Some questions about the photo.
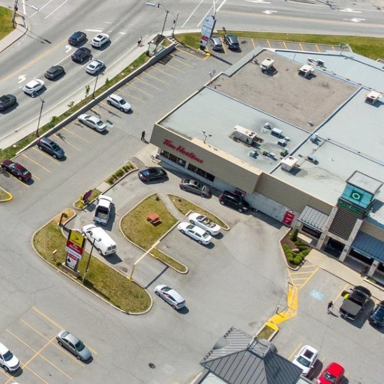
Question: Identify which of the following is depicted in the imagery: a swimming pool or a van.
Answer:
van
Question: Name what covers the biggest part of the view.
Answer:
paved ground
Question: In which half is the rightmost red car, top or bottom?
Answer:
bottom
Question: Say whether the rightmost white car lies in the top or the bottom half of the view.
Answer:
bottom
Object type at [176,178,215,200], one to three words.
car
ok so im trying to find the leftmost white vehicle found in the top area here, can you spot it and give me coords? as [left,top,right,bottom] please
[20,80,47,97]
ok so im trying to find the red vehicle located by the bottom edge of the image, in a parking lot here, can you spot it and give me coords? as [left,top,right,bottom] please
[316,361,347,384]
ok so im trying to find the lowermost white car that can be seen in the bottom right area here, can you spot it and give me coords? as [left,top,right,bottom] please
[293,342,322,379]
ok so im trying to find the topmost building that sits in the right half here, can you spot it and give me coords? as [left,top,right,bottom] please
[148,48,384,271]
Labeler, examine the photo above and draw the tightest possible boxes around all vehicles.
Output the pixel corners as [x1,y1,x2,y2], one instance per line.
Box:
[43,64,67,81]
[134,167,172,182]
[76,112,106,134]
[175,221,216,248]
[185,211,224,237]
[223,31,240,50]
[83,60,106,76]
[336,285,372,321]
[316,361,347,384]
[1,159,32,182]
[0,339,25,376]
[52,328,97,365]
[67,31,88,47]
[69,47,92,63]
[176,178,215,200]
[367,299,384,329]
[151,283,191,312]
[106,93,132,112]
[93,193,114,227]
[36,135,67,160]
[20,80,47,97]
[89,32,111,48]
[293,342,322,379]
[0,95,18,111]
[81,224,119,259]
[215,190,254,215]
